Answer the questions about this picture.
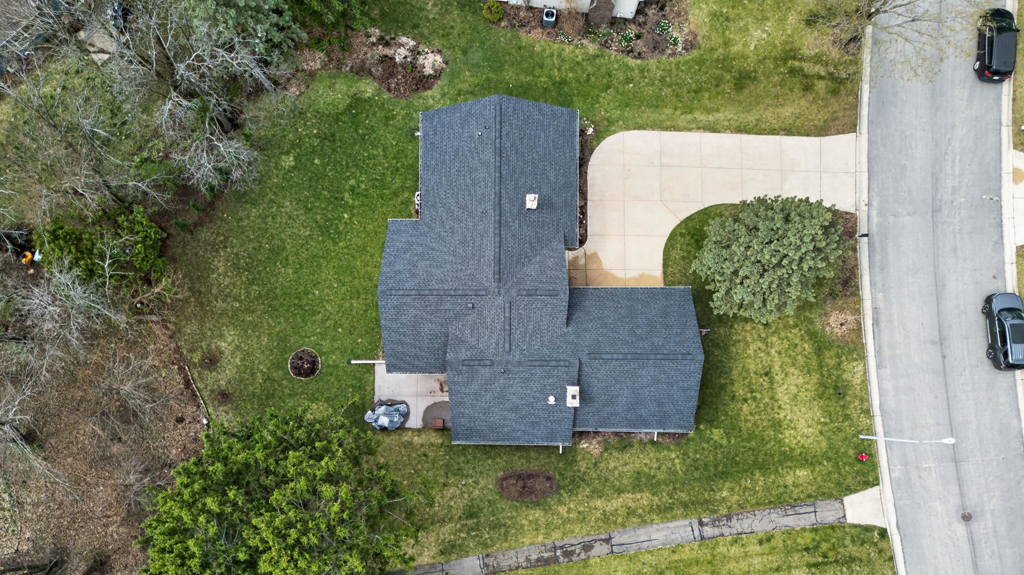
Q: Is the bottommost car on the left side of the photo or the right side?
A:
right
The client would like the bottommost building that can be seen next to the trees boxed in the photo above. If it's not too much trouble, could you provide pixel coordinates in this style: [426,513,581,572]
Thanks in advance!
[379,92,702,452]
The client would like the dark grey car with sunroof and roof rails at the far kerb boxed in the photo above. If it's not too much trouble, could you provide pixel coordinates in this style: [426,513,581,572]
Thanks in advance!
[981,292,1024,372]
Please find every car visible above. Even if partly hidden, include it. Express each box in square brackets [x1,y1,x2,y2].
[969,9,1018,87]
[981,292,1024,372]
